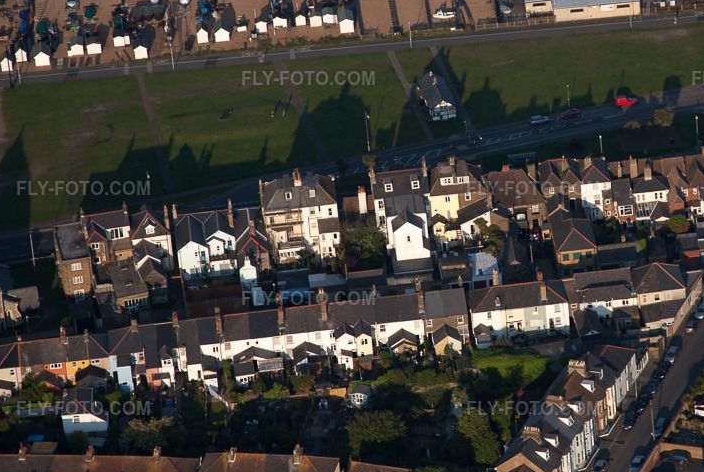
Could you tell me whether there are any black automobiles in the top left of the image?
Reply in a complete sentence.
No, no black automobile appears in the top left of the image.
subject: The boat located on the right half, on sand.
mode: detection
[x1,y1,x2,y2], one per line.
[433,4,456,19]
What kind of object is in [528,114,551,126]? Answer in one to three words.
vehicle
